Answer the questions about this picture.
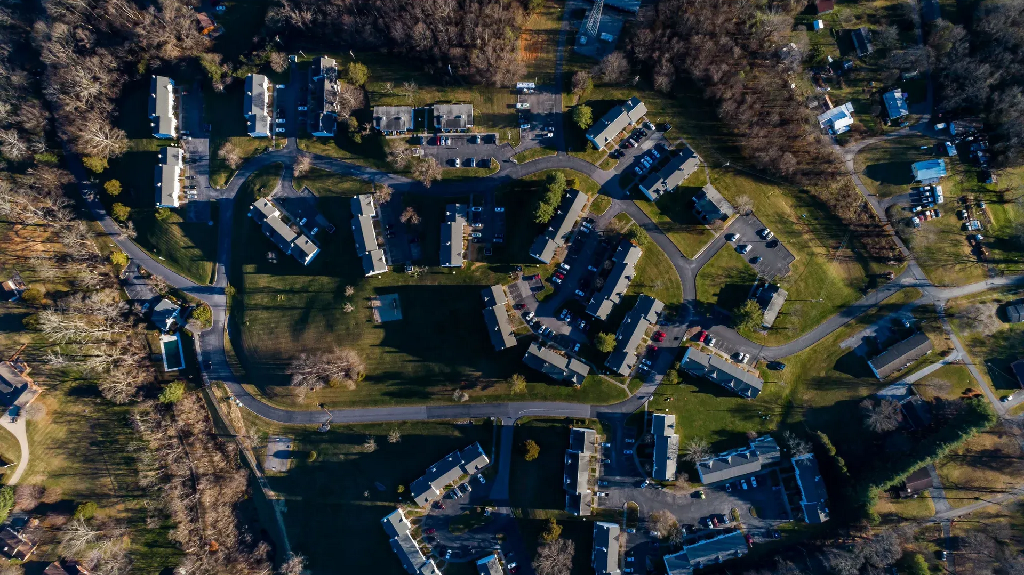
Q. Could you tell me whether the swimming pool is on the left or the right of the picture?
left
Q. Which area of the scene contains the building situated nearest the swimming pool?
left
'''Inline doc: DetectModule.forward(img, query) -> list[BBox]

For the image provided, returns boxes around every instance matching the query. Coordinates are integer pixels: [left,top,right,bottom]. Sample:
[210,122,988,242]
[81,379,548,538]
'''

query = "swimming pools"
[160,332,183,372]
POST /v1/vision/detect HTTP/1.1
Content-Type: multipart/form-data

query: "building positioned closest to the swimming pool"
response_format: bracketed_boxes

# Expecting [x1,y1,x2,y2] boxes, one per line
[151,299,182,330]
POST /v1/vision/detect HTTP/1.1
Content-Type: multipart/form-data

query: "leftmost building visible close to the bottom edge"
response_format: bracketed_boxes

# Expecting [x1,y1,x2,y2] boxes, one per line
[0,520,39,563]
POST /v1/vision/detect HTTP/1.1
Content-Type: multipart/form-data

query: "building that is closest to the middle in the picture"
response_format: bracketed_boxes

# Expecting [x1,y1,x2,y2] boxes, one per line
[481,283,517,351]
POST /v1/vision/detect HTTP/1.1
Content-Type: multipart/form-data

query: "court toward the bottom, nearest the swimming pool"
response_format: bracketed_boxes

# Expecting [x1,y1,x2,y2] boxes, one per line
[264,436,294,471]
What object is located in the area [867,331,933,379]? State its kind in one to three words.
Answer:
house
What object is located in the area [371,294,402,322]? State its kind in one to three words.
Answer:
sports court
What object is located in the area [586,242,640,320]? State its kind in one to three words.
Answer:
building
